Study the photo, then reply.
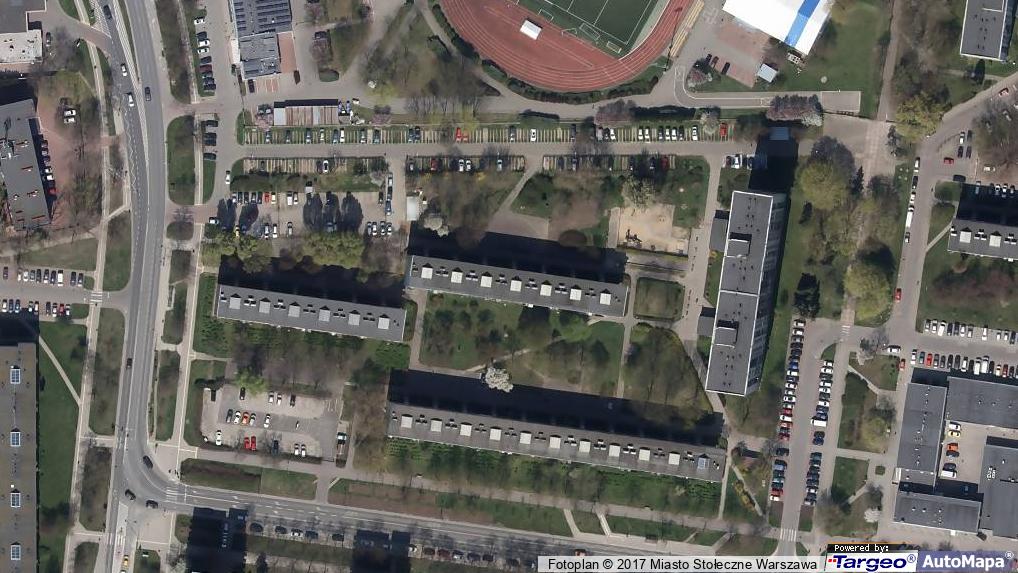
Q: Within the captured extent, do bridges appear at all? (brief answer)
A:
No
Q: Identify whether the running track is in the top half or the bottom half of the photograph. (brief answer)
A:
top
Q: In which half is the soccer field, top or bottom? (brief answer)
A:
top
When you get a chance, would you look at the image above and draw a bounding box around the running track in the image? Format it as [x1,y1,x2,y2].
[439,0,699,95]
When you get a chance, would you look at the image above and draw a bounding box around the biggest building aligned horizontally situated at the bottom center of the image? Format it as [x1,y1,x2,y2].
[388,403,732,482]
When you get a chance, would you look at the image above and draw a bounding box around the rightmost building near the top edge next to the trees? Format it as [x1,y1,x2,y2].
[959,0,1012,61]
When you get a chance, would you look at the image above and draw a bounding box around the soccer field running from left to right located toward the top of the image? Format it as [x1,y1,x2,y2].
[520,0,669,60]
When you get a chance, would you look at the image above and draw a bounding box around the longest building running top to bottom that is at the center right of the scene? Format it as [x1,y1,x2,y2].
[706,191,783,396]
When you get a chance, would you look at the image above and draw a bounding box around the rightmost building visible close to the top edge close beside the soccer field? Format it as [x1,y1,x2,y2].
[722,0,836,55]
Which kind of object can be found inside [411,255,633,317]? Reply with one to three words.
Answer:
building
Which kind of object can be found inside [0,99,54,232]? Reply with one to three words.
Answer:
building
